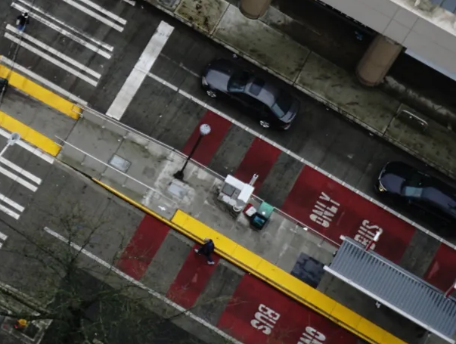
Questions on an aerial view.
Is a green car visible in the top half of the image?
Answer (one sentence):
No, in the top half of the image there is no green car.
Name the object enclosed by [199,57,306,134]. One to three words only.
car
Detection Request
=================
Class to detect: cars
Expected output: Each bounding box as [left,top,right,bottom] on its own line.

[199,57,306,134]
[371,162,456,240]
